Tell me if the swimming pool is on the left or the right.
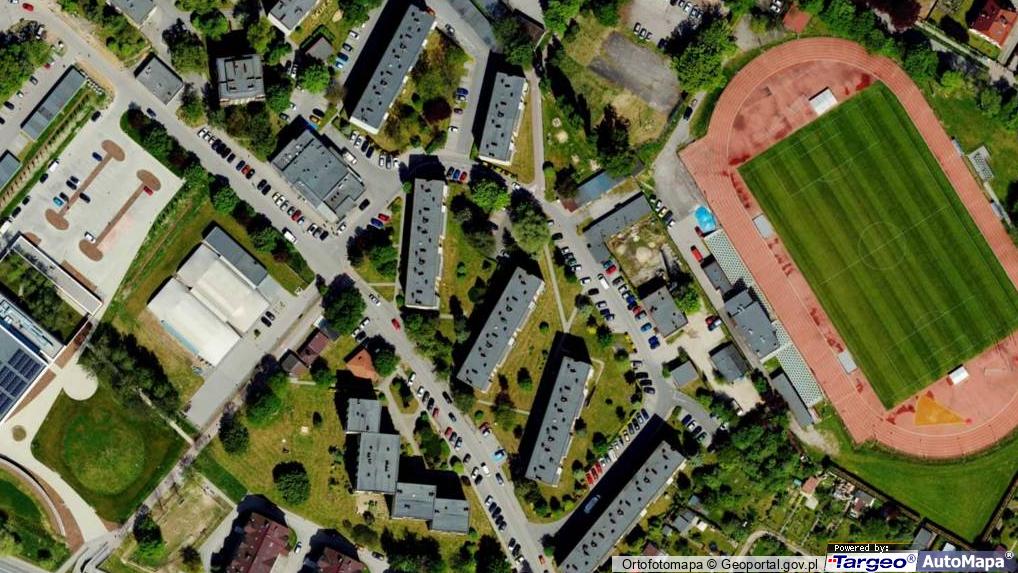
right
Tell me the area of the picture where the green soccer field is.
right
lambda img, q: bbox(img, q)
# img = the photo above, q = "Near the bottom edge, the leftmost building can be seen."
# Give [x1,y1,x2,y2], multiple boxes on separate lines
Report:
[222,511,292,573]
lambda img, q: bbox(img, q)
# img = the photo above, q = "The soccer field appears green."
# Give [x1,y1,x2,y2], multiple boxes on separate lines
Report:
[739,81,1018,410]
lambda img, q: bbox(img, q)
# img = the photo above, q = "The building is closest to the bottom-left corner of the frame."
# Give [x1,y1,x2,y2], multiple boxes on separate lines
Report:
[0,323,53,428]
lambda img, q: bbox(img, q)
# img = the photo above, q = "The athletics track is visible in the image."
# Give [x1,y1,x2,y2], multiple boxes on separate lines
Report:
[679,36,1018,457]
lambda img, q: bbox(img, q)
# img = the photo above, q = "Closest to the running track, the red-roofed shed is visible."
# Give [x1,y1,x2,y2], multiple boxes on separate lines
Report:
[783,6,811,33]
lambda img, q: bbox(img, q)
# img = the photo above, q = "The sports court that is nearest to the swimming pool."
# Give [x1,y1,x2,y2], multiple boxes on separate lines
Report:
[588,31,681,107]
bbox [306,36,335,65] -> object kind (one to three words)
shed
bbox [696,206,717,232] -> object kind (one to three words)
swimming pool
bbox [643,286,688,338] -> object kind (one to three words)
building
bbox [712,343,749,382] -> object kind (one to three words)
house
